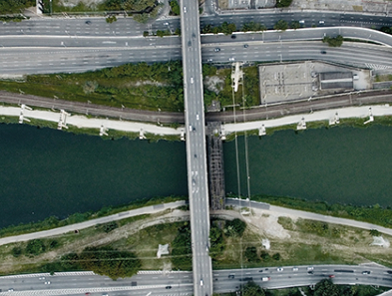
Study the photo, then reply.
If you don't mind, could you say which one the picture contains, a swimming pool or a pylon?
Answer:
pylon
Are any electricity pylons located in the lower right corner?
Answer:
Yes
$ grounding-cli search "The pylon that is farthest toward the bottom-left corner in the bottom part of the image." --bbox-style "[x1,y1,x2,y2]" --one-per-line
[157,243,170,262]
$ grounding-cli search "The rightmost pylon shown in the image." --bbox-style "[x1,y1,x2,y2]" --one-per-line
[368,234,392,251]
